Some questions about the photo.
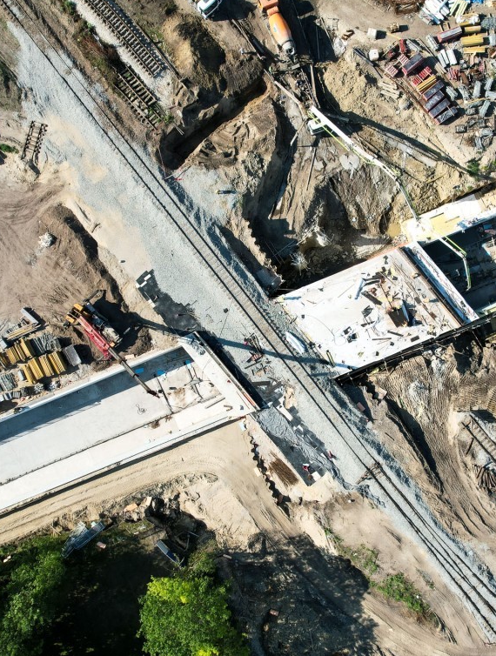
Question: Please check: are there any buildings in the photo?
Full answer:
No, no building can be seen from above.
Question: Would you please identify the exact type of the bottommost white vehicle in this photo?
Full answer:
The bottommost white vehicle appears to be a truck.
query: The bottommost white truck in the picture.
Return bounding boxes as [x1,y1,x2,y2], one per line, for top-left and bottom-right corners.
[275,62,472,293]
